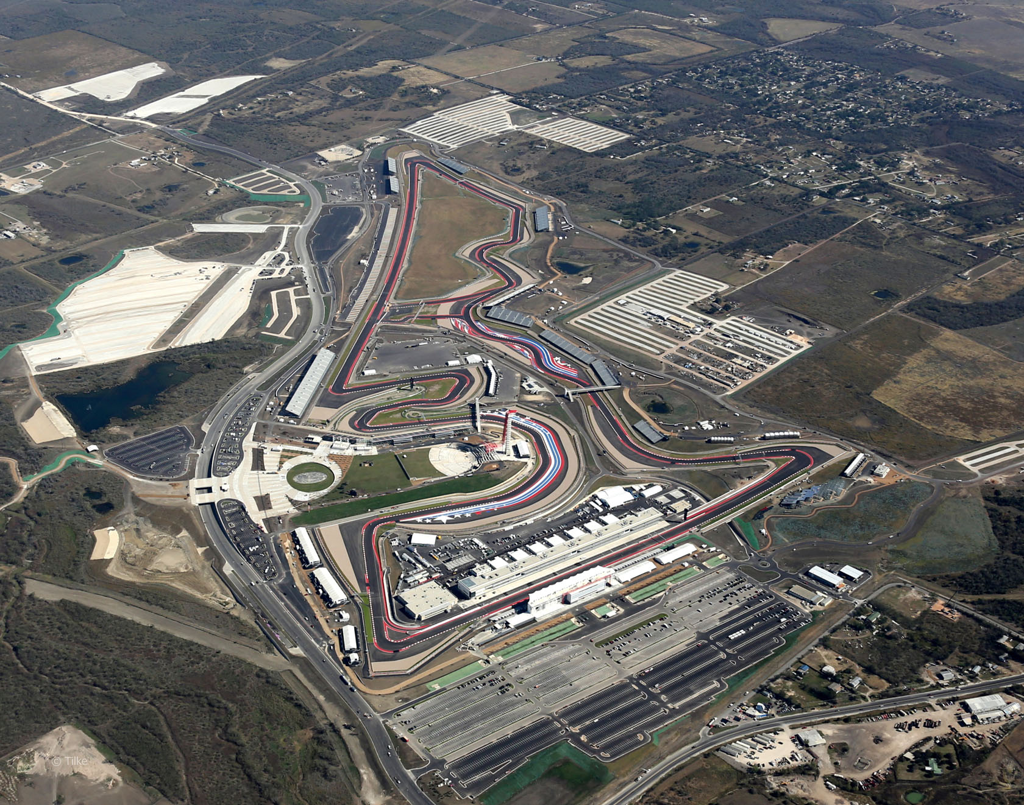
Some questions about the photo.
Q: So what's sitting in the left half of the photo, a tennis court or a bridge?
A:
bridge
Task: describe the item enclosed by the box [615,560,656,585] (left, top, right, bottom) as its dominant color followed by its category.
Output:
white tent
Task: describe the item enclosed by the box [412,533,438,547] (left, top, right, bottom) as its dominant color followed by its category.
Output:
white tent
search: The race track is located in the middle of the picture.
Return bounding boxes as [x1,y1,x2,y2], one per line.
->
[334,160,809,650]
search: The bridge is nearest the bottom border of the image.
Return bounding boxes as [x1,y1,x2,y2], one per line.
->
[185,477,218,509]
